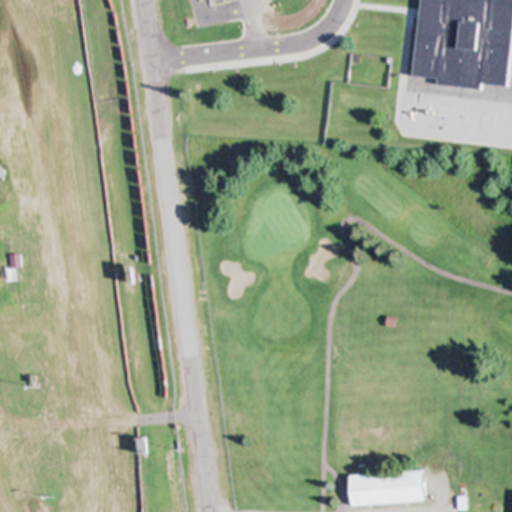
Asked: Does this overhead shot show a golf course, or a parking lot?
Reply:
golf course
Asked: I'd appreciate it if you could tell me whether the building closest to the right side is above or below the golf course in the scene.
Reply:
above it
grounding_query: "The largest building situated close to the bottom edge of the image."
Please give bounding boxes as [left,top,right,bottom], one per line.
[348,469,426,507]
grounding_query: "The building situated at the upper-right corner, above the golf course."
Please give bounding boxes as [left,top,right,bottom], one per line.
[411,0,512,89]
